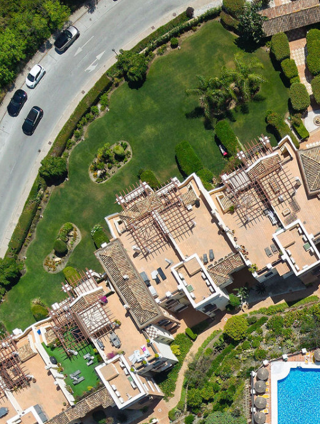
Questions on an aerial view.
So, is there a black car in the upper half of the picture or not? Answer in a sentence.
Yes, the scene does show a black car in the upper half of the picture.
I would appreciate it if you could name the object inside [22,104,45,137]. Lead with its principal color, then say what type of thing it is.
black car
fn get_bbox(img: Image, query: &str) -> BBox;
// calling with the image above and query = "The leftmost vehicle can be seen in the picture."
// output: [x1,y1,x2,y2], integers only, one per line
[7,87,29,119]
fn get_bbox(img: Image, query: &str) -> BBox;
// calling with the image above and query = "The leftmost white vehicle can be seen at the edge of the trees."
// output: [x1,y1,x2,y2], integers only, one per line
[25,62,46,90]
